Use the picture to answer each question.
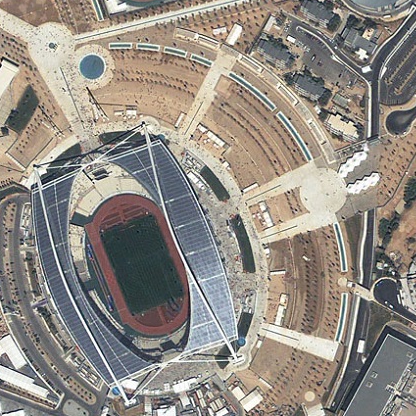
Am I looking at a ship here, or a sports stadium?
sports stadium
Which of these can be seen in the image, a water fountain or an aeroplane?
water fountain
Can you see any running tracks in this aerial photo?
Yes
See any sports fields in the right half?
No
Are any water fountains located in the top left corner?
Yes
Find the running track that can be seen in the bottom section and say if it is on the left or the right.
left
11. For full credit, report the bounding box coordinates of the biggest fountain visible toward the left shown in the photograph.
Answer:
[78,55,106,81]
